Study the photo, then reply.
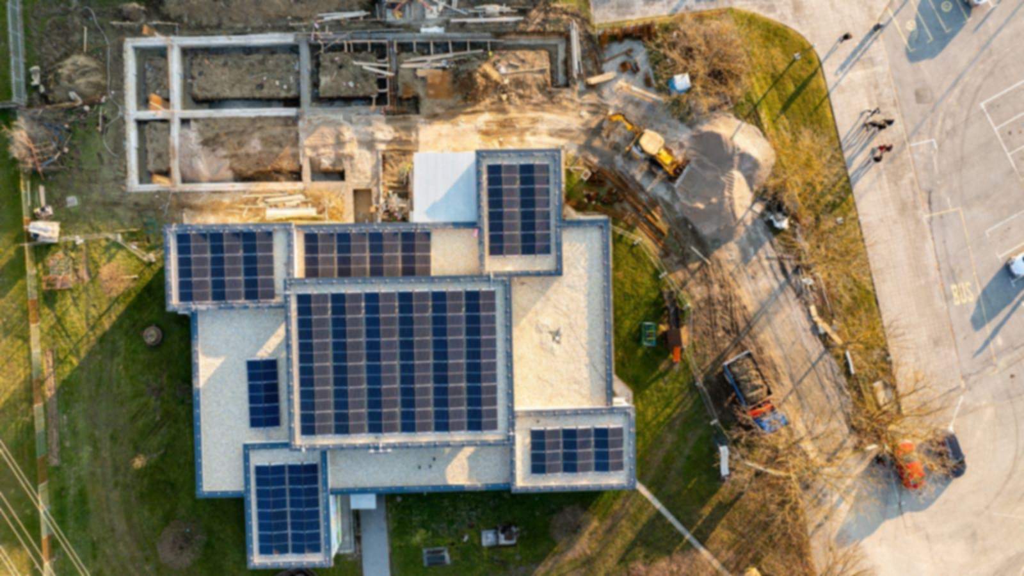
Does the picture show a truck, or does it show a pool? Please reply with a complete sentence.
Looking from above, you can make out a truck.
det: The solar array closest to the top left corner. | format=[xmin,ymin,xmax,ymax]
[178,230,276,303]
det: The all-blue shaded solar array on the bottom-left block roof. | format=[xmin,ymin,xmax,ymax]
[256,462,322,556]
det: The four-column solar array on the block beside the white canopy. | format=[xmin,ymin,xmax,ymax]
[488,162,551,258]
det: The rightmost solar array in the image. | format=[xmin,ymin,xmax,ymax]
[531,425,623,475]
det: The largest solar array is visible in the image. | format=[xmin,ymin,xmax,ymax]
[298,288,499,437]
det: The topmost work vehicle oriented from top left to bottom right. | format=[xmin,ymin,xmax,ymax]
[596,121,683,191]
